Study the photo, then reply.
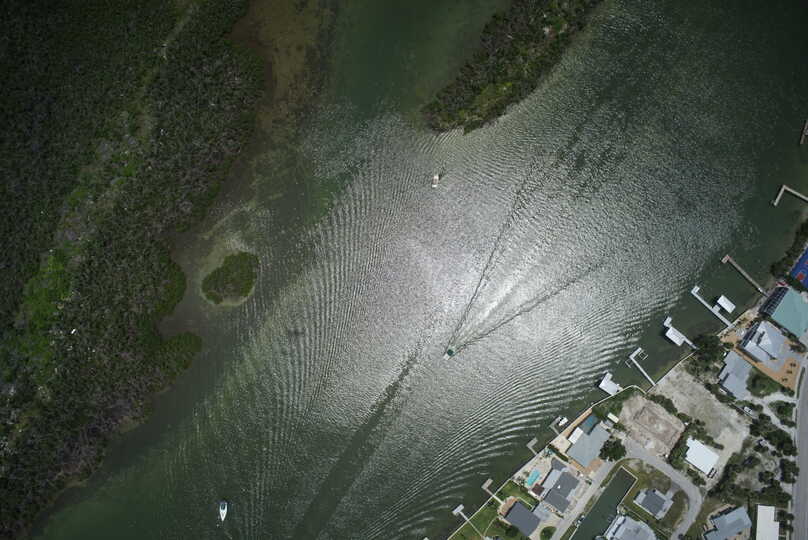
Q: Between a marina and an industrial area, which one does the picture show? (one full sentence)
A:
The picture captures a marina.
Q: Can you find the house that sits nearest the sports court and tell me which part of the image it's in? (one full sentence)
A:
The house that sits nearest the sports court sits in the right section of the image.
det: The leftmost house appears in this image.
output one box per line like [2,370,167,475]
[505,500,540,535]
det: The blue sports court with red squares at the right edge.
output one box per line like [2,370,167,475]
[787,244,808,290]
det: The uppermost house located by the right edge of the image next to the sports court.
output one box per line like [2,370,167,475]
[769,288,808,339]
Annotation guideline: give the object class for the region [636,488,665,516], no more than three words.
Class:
house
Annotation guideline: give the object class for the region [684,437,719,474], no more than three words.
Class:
house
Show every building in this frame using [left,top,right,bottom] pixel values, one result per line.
[743,321,785,362]
[717,351,752,400]
[597,371,624,396]
[769,288,808,339]
[754,504,780,540]
[505,500,540,535]
[611,516,655,540]
[684,437,719,474]
[567,422,611,467]
[542,457,579,513]
[636,488,665,516]
[713,294,735,313]
[661,317,698,350]
[703,505,750,540]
